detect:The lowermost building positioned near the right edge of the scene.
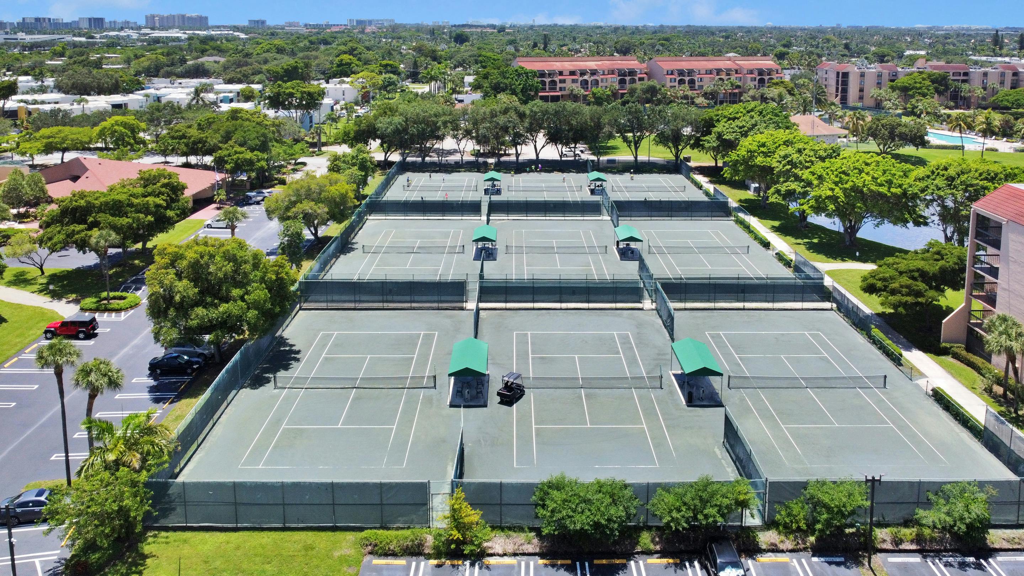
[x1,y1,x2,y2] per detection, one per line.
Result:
[919,179,1024,383]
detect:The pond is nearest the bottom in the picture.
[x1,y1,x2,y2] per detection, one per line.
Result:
[781,189,1007,258]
